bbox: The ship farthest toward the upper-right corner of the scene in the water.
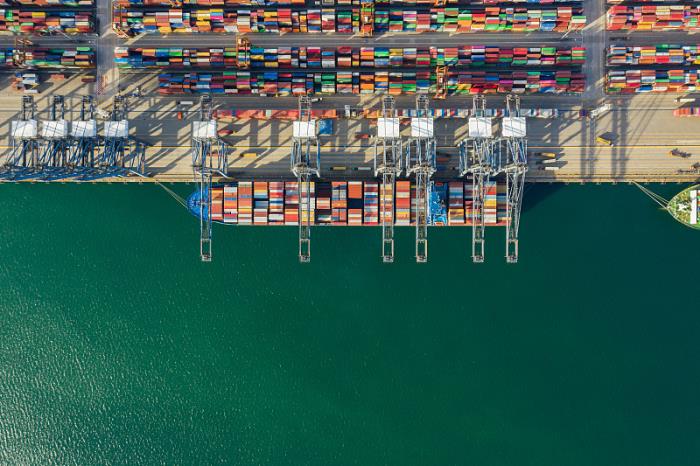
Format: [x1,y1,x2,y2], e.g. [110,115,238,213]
[665,184,700,231]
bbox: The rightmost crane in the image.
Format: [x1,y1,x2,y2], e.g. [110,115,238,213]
[485,98,527,262]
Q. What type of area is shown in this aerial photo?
port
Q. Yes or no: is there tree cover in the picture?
No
